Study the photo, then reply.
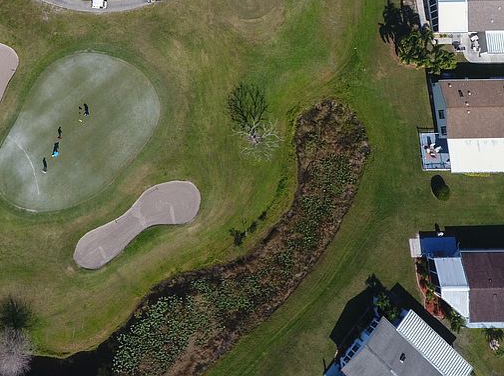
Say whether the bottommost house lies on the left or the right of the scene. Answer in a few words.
right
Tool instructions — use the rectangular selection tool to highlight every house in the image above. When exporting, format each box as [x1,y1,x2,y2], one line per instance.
[421,79,504,173]
[318,305,474,376]
[422,247,504,344]
[422,0,504,55]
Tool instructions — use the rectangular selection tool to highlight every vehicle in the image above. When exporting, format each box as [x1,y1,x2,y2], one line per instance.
[143,0,161,6]
[90,0,109,10]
